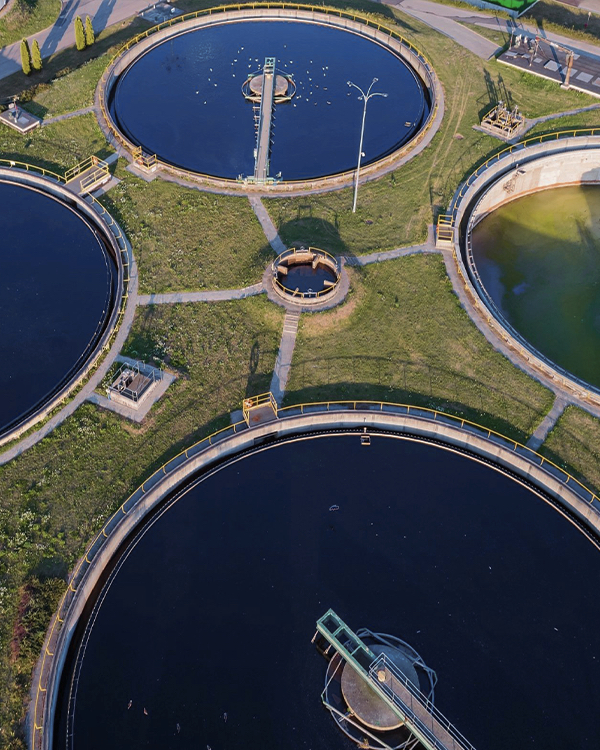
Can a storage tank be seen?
Yes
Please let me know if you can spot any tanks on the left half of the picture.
Yes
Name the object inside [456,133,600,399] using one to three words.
storage tank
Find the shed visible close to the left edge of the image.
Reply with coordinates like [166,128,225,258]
[0,93,41,135]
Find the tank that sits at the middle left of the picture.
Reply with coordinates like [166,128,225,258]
[0,159,130,445]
